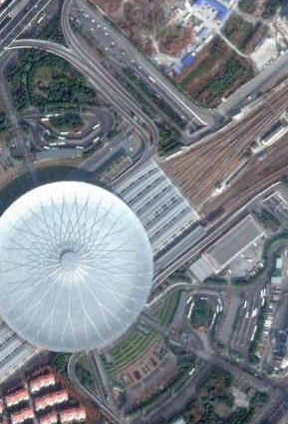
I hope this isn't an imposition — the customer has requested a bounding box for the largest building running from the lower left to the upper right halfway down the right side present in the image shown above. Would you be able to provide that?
[203,214,266,269]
